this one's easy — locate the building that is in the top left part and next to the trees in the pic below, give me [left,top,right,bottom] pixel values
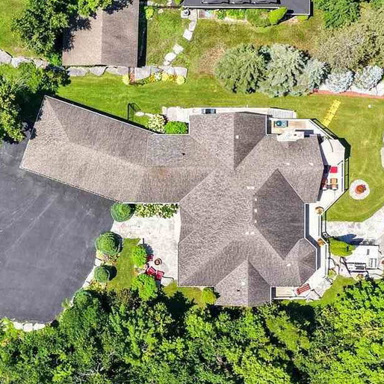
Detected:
[62,0,140,68]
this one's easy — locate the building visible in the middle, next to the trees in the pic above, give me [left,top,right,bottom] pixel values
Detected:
[20,95,324,306]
